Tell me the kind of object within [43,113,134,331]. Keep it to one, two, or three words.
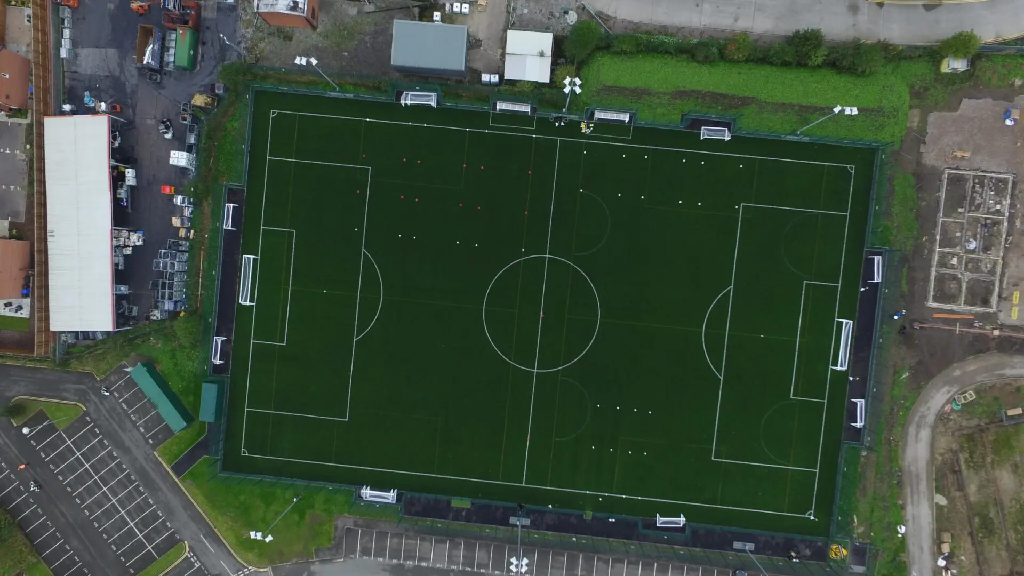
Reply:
shed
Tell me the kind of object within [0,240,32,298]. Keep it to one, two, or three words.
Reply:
house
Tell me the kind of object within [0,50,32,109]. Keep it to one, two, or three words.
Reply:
house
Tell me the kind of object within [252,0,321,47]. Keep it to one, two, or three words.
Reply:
building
